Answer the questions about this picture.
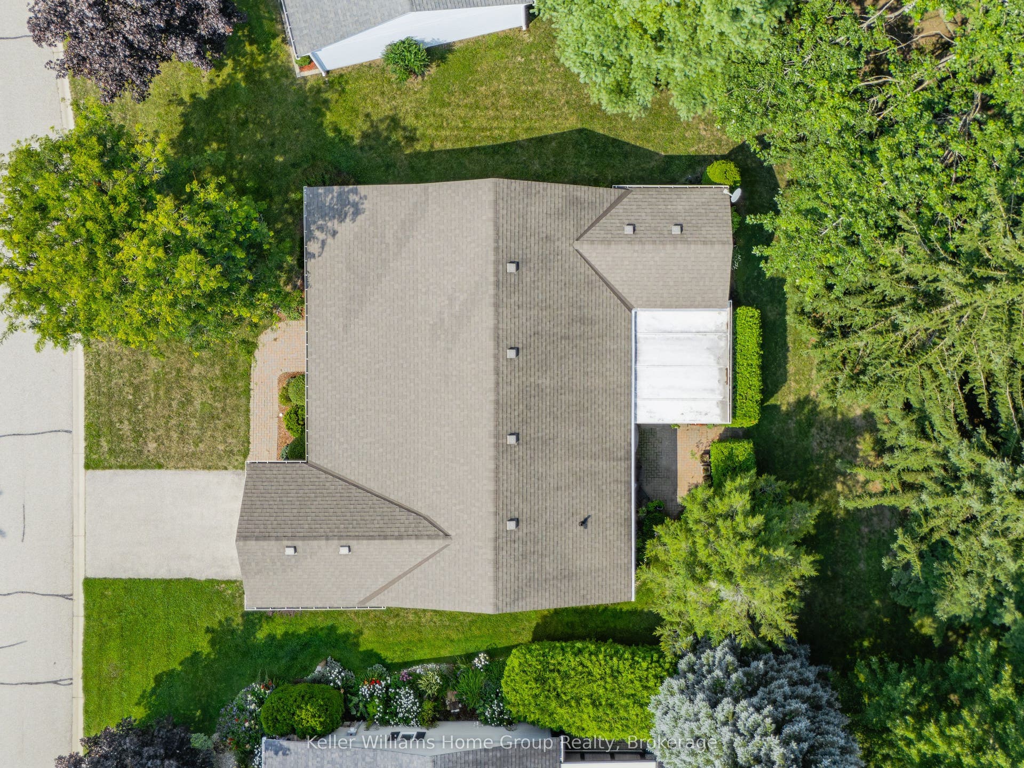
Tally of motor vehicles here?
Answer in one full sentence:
The photo contains no motor vehicles.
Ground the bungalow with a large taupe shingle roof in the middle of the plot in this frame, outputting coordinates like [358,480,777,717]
[238,178,734,614]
